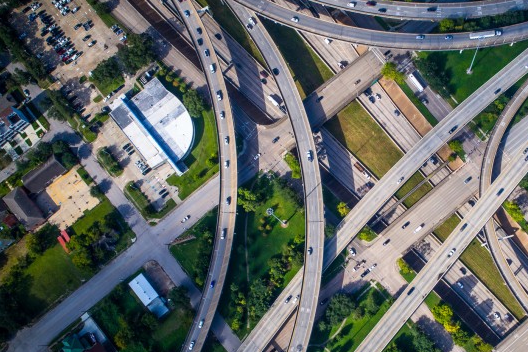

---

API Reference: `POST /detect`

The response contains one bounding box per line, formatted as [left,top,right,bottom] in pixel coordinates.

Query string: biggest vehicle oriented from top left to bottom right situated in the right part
[410,74,426,90]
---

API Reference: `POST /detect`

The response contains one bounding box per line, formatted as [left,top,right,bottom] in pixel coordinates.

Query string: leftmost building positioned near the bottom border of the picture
[62,334,88,352]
